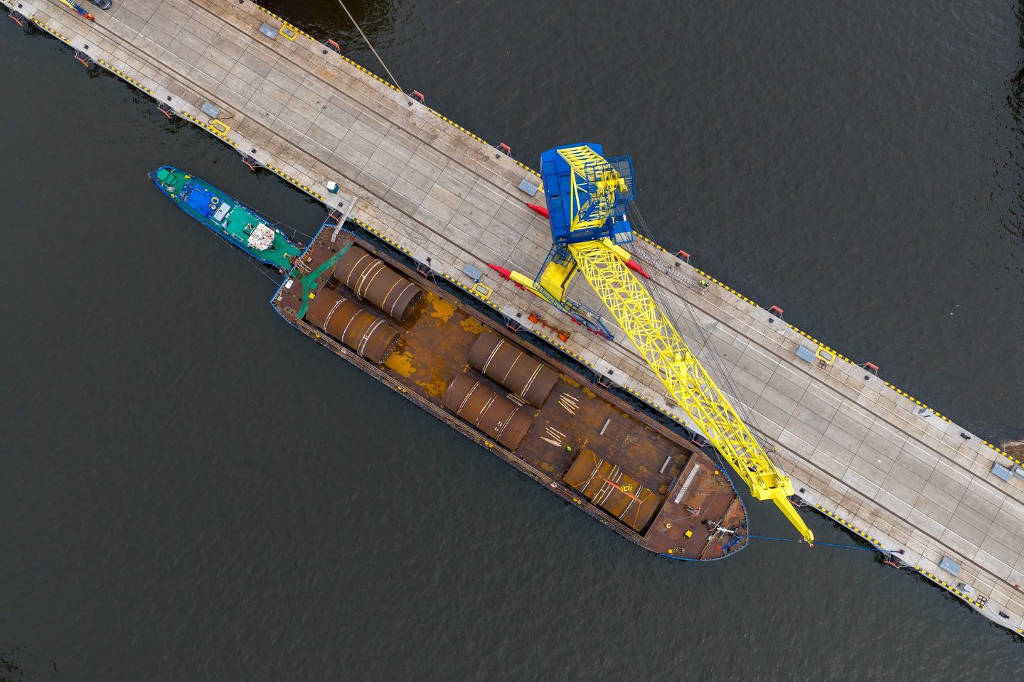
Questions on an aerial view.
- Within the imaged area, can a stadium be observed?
No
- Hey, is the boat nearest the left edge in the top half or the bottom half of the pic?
top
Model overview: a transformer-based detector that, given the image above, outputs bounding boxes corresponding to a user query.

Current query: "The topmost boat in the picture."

[146,165,302,275]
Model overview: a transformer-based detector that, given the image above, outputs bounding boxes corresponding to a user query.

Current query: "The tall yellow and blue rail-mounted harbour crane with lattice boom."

[488,143,817,558]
